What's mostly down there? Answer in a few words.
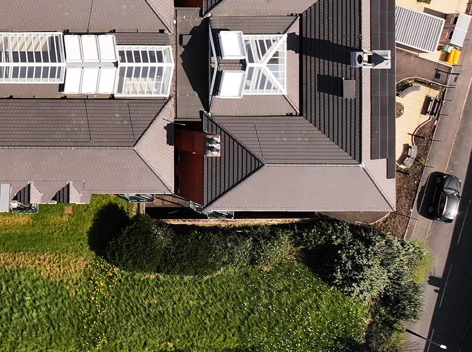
buildings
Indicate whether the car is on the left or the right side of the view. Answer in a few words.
right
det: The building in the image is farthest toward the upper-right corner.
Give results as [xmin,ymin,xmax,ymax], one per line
[435,13,472,47]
